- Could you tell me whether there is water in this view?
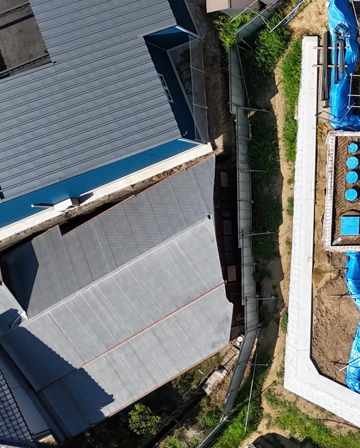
No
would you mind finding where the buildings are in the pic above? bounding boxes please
[0,0,216,223]
[0,154,243,438]
[207,0,269,15]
